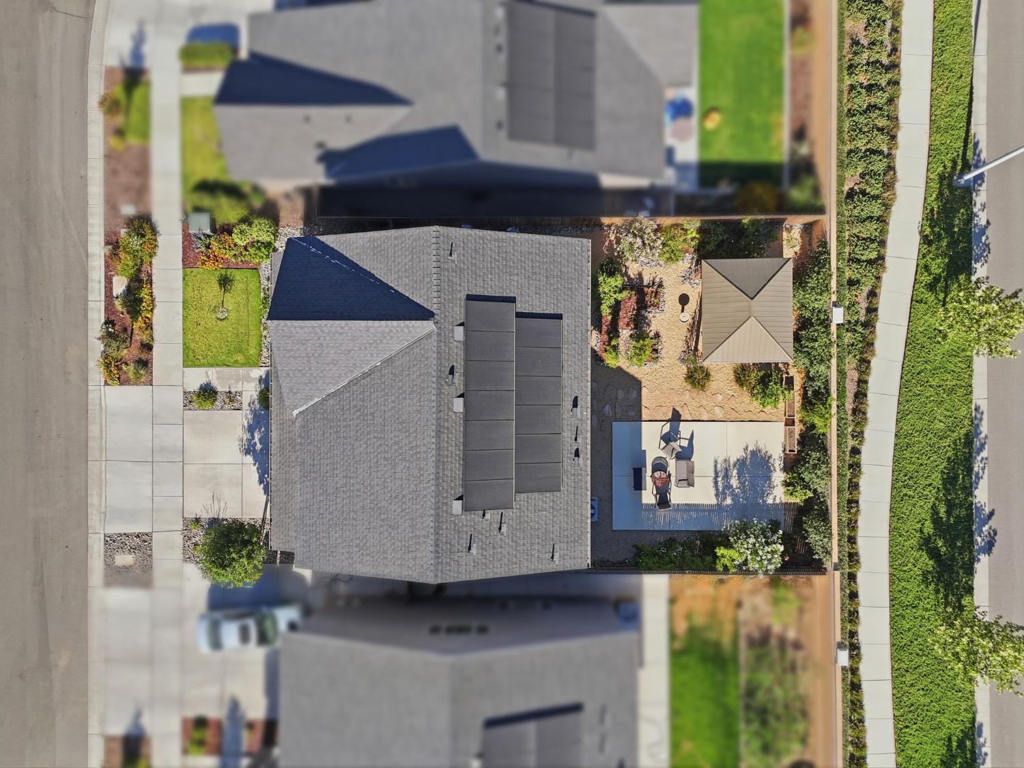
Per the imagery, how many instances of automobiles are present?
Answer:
one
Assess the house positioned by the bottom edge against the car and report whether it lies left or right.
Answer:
to the right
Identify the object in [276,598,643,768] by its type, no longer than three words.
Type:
house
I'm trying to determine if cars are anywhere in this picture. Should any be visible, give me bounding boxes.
[194,599,304,655]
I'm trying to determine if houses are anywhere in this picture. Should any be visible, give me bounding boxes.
[276,598,643,768]
[268,226,593,583]
[211,0,700,193]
